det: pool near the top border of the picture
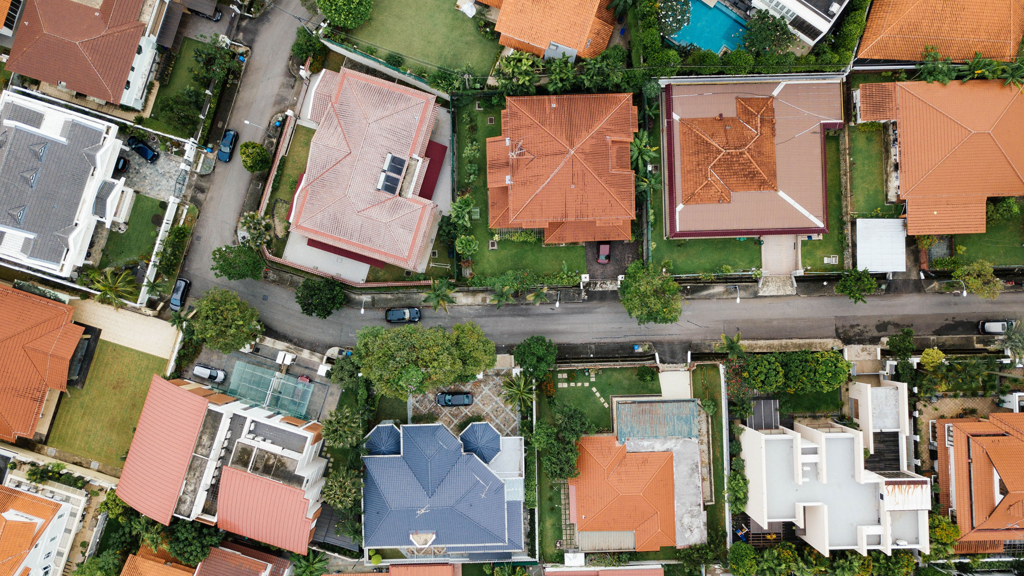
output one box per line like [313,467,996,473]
[676,0,746,53]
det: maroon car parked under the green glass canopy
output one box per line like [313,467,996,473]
[295,366,314,399]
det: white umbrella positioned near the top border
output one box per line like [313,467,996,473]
[462,3,476,17]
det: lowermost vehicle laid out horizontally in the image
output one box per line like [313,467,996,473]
[437,391,473,408]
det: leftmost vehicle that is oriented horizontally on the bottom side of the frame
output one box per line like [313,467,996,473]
[191,363,228,383]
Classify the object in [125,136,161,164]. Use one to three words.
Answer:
car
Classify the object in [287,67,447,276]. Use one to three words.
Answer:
house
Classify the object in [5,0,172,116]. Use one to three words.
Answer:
house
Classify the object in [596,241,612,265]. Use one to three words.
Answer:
car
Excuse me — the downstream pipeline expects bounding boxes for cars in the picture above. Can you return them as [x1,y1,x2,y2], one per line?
[437,391,473,408]
[219,129,239,163]
[191,363,228,383]
[125,136,161,164]
[596,241,612,265]
[114,156,138,174]
[977,319,1012,336]
[191,9,227,24]
[385,307,421,322]
[295,366,314,399]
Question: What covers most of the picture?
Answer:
buildings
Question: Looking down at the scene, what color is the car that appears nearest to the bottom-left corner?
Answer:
white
